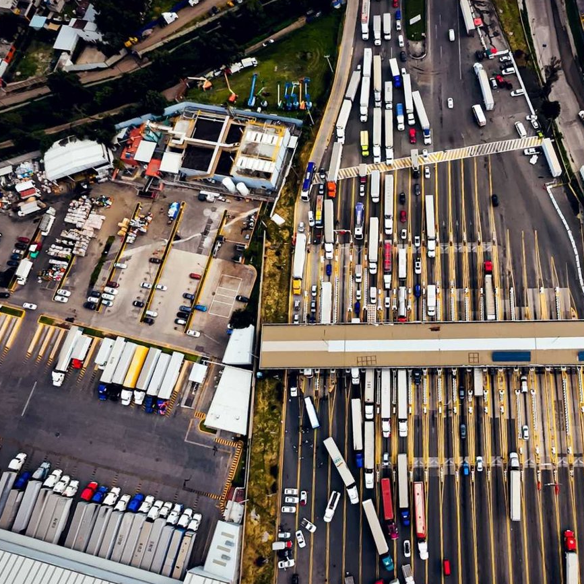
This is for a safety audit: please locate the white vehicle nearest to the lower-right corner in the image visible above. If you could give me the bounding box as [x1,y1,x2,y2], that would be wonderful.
[564,530,578,584]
